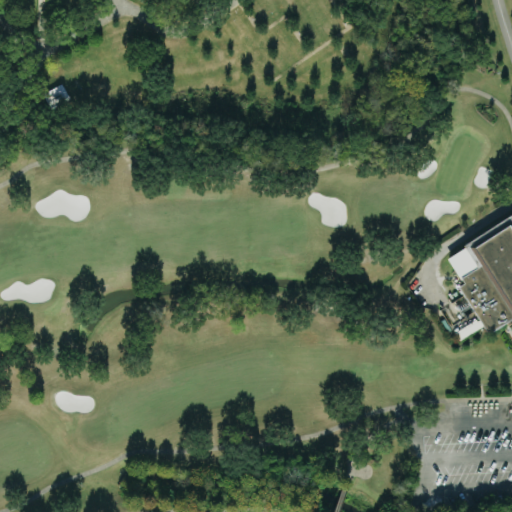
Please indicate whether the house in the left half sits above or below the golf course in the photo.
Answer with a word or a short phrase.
above it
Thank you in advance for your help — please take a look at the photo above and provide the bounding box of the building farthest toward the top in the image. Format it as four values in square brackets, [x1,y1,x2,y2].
[50,84,69,112]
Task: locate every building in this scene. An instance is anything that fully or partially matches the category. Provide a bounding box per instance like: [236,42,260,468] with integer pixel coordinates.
[50,84,69,112]
[449,217,512,334]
